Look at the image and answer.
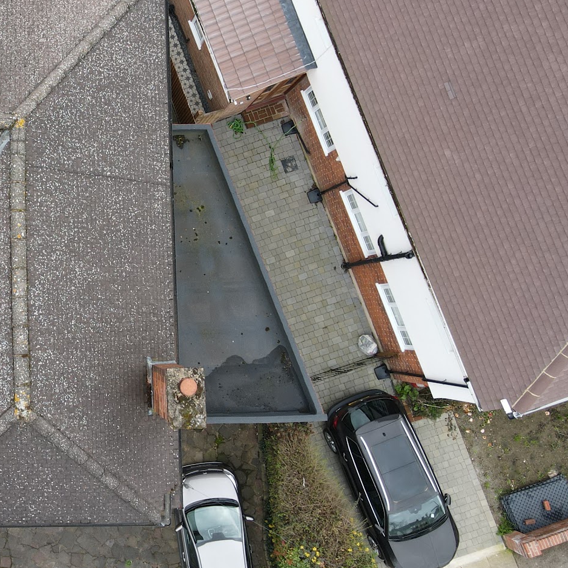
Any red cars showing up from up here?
No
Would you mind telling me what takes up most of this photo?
buildings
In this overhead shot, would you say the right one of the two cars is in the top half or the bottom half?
bottom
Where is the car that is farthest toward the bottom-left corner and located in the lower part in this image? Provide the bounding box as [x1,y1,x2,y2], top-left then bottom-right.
[181,459,265,568]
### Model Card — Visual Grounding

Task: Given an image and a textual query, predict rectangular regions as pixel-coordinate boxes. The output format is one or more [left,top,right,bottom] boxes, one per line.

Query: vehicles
[181,459,265,568]
[320,378,464,568]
